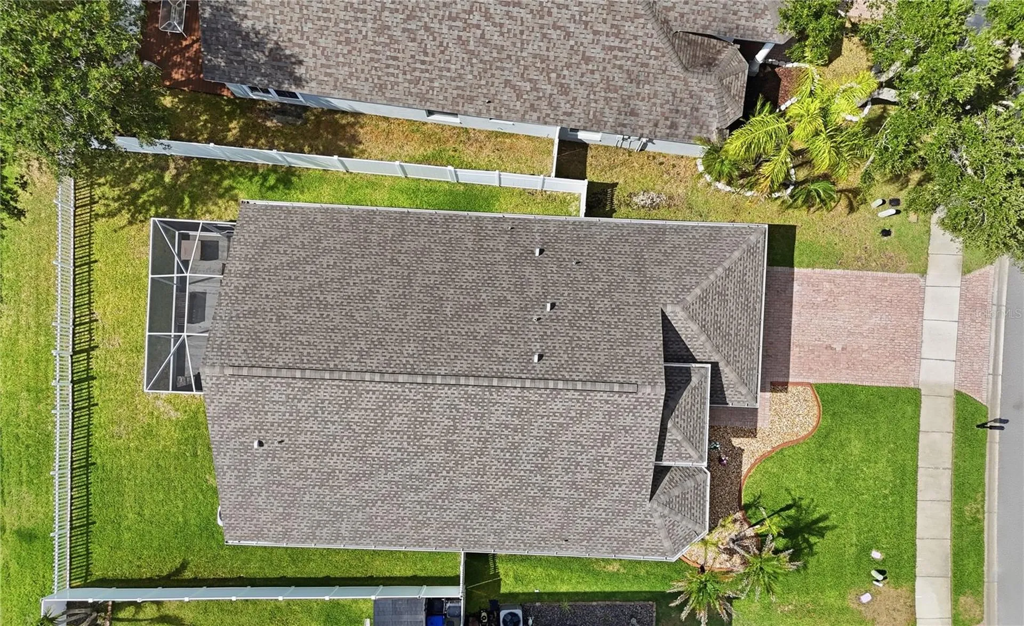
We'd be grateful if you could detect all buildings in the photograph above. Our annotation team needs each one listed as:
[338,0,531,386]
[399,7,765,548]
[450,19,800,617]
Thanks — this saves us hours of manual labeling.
[375,597,427,626]
[205,203,768,561]
[201,0,793,158]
